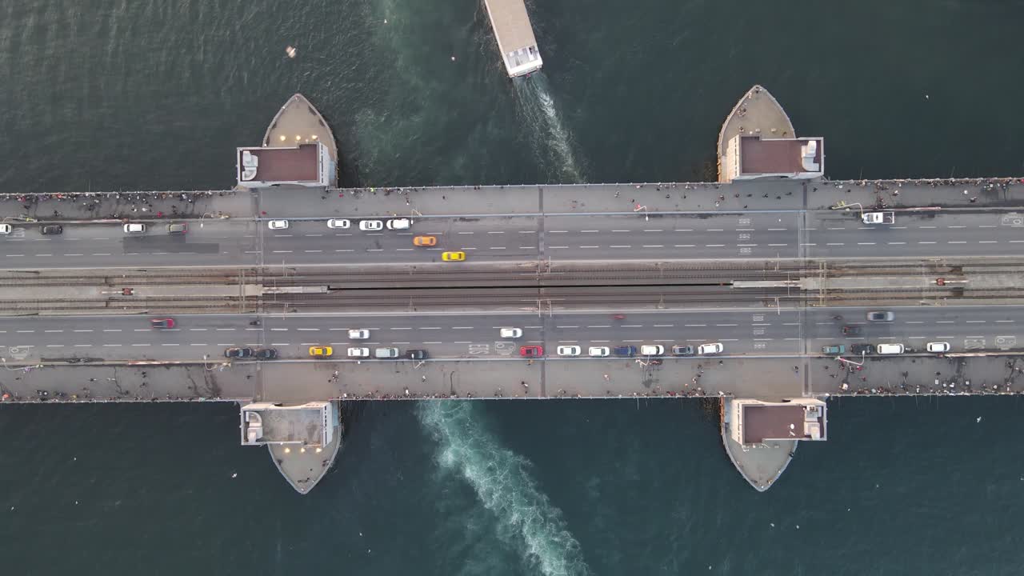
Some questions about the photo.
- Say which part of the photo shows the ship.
top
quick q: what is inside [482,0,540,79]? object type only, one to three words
ship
